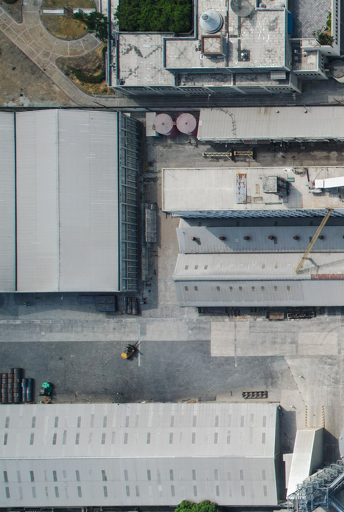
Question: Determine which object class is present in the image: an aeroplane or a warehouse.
warehouse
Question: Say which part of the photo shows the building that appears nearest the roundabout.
top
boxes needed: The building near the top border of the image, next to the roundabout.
[99,0,303,95]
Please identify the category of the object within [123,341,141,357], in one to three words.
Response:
work vehicle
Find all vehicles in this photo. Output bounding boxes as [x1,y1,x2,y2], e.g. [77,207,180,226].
[123,341,141,357]
[41,382,53,397]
